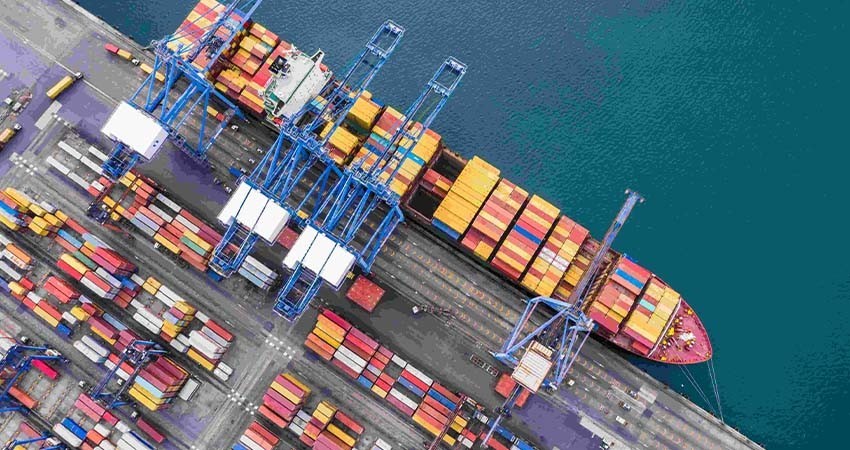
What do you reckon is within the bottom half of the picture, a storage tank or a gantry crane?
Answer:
gantry crane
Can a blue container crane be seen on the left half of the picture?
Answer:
Yes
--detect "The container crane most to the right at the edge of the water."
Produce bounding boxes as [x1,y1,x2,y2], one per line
[480,188,648,443]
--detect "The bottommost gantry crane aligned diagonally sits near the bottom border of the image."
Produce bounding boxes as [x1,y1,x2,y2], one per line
[417,389,475,450]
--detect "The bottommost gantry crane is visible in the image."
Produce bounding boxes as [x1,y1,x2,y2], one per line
[5,428,66,450]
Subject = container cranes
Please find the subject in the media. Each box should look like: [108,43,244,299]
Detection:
[82,169,167,242]
[0,342,63,413]
[266,54,471,325]
[90,337,174,411]
[5,428,66,450]
[417,389,475,450]
[85,0,259,195]
[480,188,648,443]
[204,17,409,280]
